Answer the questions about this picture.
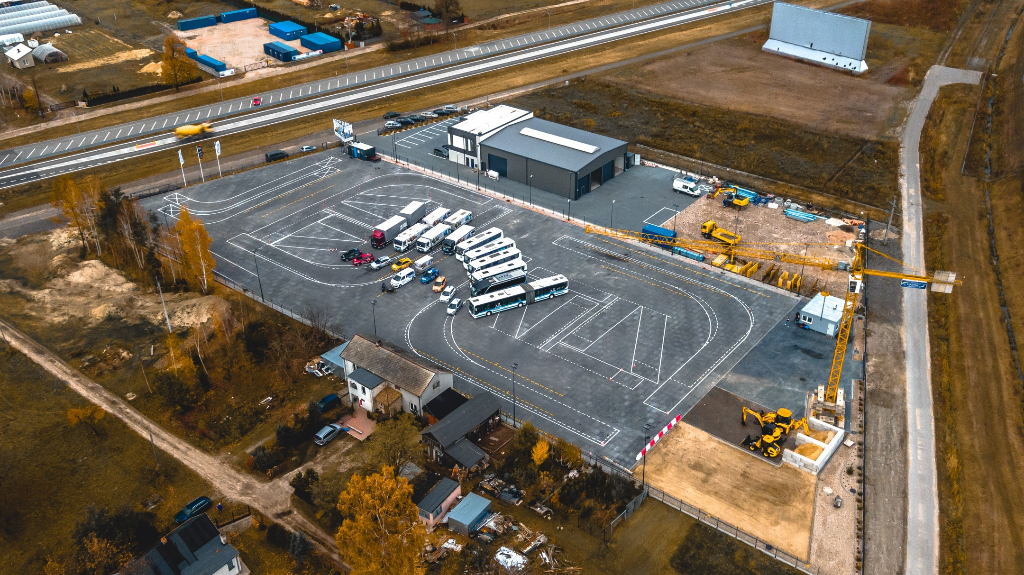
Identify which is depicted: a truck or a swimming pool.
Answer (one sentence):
Of the two, only a truck appears.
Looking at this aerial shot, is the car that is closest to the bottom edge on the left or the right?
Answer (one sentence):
The car that is closest to the bottom edge sits on the left side.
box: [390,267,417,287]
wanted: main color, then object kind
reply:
white vehicle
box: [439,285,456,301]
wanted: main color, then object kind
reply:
white car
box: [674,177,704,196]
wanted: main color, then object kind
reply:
white vehicle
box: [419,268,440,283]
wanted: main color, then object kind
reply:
blue car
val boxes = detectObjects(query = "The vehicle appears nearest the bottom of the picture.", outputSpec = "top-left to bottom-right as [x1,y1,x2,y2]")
[169,490,212,521]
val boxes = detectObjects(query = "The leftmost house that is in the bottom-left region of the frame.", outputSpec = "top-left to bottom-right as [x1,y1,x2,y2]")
[103,511,236,575]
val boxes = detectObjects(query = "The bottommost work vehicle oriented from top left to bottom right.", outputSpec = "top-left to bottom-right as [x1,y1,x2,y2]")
[741,405,787,444]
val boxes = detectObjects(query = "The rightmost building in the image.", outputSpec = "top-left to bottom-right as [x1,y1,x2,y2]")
[801,297,847,340]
